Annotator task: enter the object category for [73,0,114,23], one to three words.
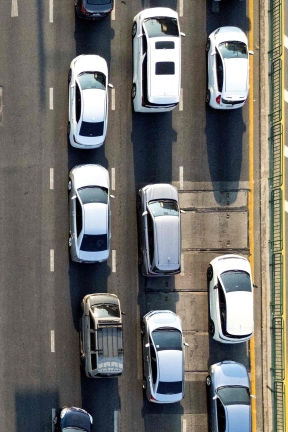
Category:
car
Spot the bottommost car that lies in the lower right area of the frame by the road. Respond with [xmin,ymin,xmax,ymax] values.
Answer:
[207,361,257,432]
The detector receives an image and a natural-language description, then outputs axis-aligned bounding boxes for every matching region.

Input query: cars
[140,183,187,278]
[54,407,94,432]
[68,54,114,150]
[209,254,260,344]
[207,25,255,110]
[73,0,114,23]
[81,291,128,379]
[143,309,189,405]
[68,163,115,263]
[207,361,257,432]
